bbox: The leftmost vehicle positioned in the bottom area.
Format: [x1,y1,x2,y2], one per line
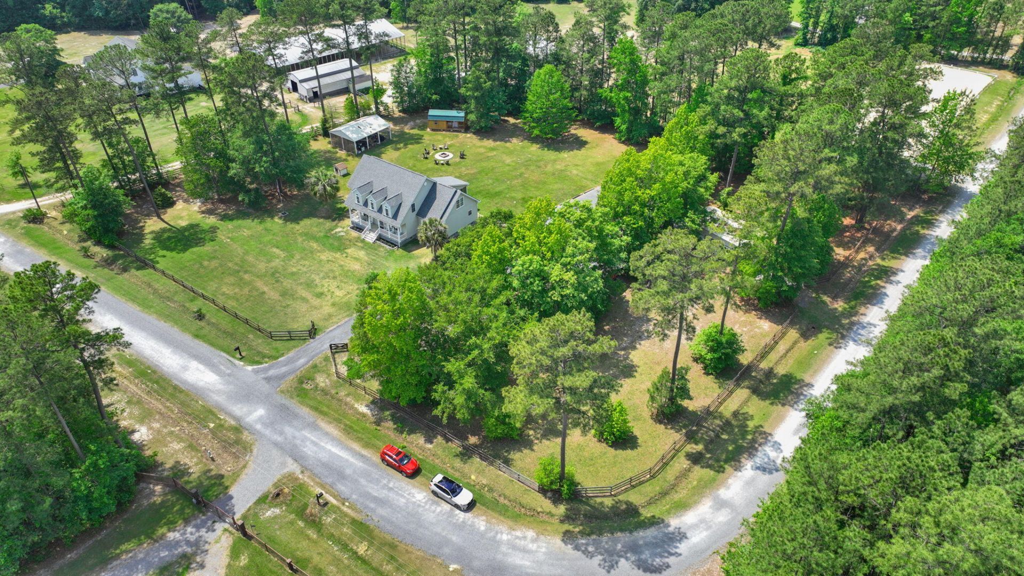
[383,439,428,473]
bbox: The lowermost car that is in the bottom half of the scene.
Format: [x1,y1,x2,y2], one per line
[432,468,479,504]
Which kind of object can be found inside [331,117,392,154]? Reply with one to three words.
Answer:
shed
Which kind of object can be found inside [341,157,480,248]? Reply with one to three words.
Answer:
house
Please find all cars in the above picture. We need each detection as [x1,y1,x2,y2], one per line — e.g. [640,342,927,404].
[383,439,428,473]
[432,468,479,504]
